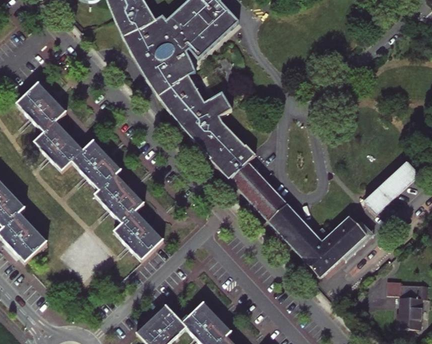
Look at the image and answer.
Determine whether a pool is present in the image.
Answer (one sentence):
No, I can see no pool in this picture.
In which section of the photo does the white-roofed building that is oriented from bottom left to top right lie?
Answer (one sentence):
The white-roofed building that is oriented from bottom left to top right sits in the right section of the image.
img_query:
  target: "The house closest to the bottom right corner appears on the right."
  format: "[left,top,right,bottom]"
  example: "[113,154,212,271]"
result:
[386,283,428,332]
